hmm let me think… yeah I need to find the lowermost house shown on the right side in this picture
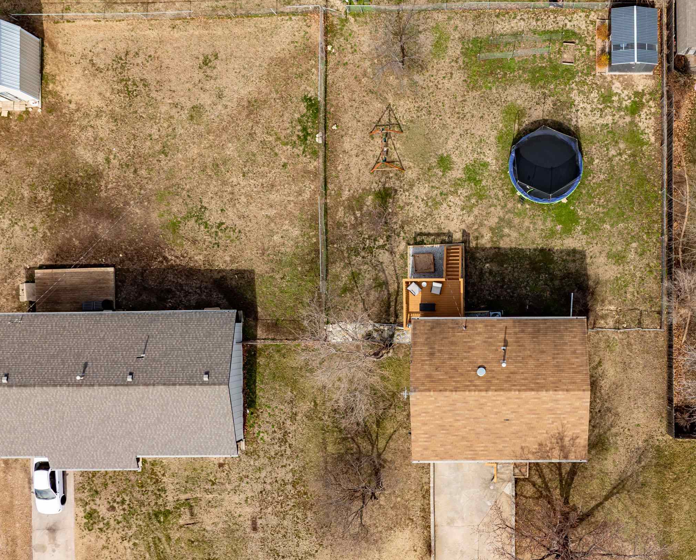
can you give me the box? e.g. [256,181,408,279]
[400,316,590,464]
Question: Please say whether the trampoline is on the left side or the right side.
right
